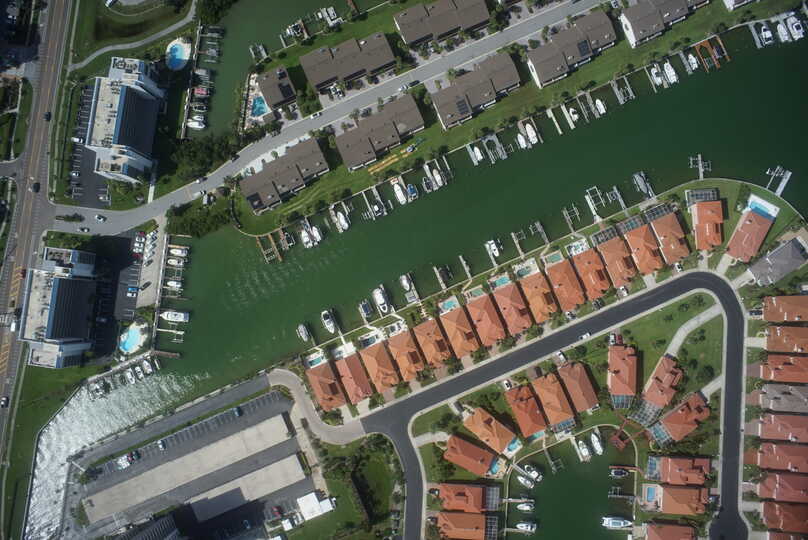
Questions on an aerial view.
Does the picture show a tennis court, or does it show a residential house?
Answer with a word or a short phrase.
residential house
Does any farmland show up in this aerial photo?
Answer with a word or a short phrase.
No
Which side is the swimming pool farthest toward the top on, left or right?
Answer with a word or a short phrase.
left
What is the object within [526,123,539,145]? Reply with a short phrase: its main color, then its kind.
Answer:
white boat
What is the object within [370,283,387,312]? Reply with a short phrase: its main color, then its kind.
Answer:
white boat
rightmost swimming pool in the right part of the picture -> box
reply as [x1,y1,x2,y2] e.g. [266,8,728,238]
[751,194,780,222]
